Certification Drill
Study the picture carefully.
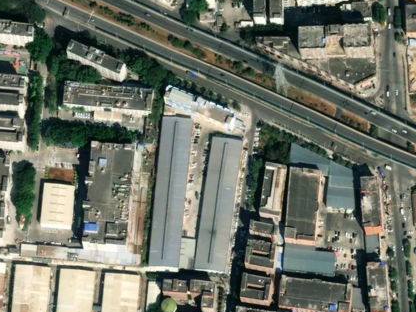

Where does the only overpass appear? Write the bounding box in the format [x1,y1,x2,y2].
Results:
[98,0,416,146]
